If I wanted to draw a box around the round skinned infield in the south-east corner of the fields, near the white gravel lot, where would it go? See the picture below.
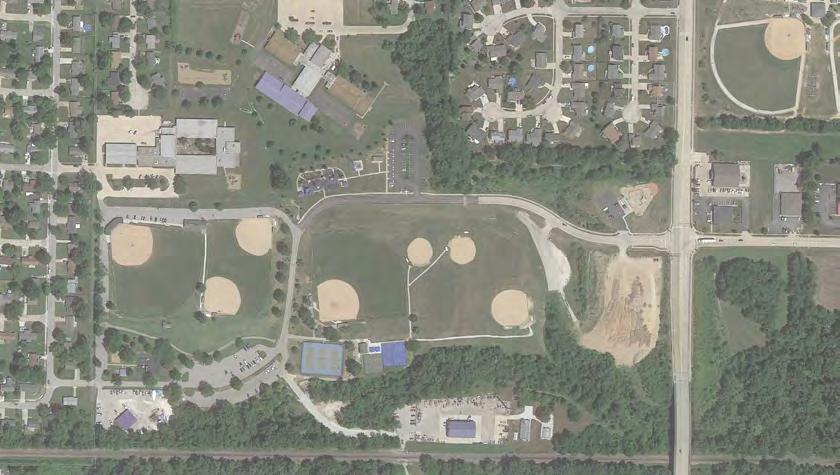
[492,290,532,329]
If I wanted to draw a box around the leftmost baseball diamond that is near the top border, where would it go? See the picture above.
[714,14,810,109]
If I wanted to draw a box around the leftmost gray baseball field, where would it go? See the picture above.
[107,222,202,325]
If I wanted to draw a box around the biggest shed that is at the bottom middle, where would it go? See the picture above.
[446,420,476,438]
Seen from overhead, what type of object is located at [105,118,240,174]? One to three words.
building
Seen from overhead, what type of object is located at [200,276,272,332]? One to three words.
baseball field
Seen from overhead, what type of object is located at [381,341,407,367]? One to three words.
basketball court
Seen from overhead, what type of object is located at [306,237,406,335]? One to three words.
baseball field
